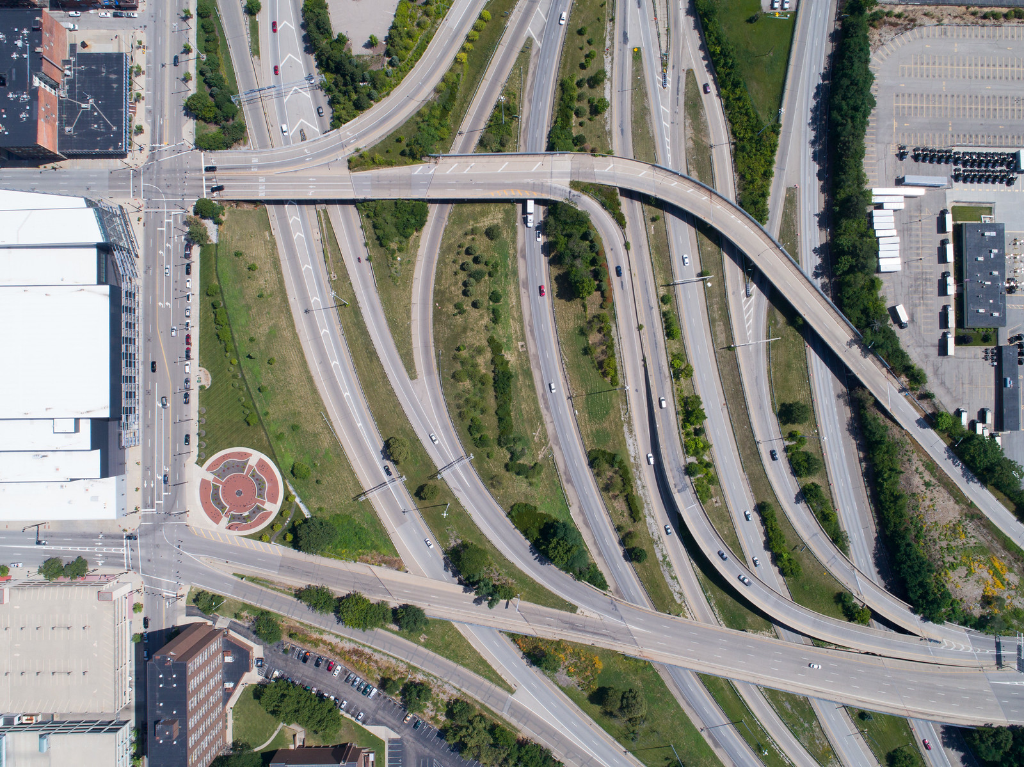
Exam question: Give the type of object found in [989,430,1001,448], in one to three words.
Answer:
vehicle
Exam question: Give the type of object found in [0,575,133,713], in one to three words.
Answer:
building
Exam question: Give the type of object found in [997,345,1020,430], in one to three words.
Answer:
shed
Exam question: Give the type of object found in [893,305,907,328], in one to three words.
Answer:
vehicle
